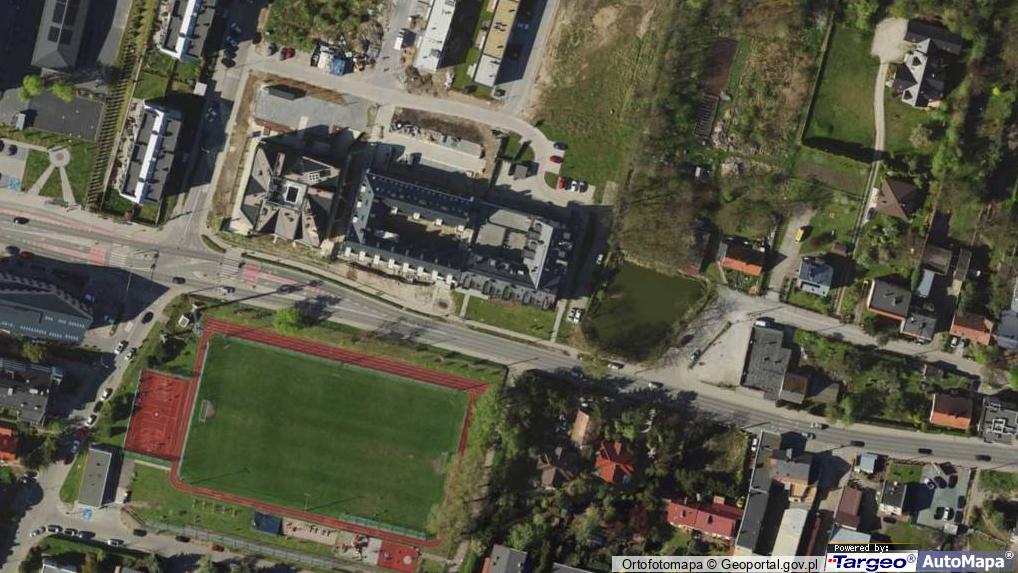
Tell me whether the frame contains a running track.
Yes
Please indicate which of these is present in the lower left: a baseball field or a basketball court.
basketball court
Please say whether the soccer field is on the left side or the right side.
left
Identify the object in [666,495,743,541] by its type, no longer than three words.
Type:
house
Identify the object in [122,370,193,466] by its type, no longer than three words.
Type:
basketball court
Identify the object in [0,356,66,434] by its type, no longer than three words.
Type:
building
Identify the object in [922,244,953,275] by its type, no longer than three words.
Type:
barn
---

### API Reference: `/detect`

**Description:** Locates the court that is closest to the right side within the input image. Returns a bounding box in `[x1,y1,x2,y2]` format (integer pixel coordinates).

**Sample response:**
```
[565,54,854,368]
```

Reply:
[378,541,420,573]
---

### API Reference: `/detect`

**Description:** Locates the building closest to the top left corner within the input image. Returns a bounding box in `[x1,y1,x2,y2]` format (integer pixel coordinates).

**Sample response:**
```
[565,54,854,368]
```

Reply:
[31,0,90,73]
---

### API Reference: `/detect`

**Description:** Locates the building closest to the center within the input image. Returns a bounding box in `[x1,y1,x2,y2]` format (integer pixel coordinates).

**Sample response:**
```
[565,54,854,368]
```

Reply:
[461,201,572,311]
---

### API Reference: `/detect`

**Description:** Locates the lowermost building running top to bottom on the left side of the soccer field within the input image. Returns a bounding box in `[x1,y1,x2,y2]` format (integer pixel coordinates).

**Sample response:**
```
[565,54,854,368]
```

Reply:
[79,448,112,509]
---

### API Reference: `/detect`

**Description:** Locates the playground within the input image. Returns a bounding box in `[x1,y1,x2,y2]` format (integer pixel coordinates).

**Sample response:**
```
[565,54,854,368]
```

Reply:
[332,532,382,567]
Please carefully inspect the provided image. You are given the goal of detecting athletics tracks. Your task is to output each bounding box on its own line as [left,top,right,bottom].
[171,319,485,547]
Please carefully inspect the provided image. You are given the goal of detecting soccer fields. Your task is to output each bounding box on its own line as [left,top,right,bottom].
[181,332,466,533]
